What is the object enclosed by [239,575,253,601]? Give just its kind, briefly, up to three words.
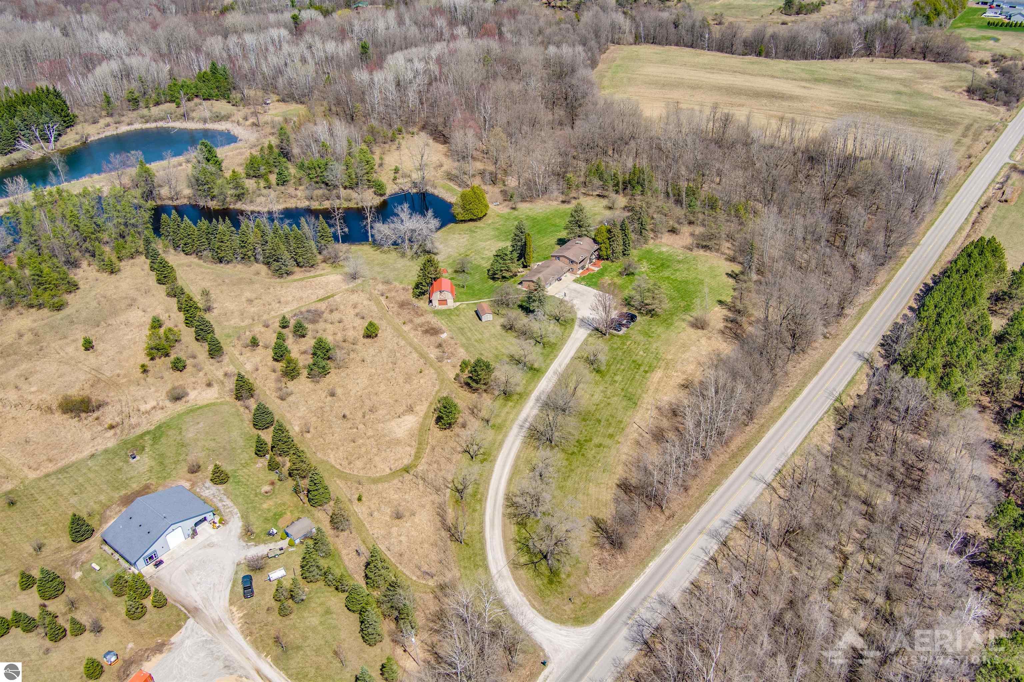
vehicle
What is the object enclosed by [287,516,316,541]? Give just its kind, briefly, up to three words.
shed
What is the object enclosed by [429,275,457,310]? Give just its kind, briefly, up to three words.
barn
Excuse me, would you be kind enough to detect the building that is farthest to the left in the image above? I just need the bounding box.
[101,485,215,571]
